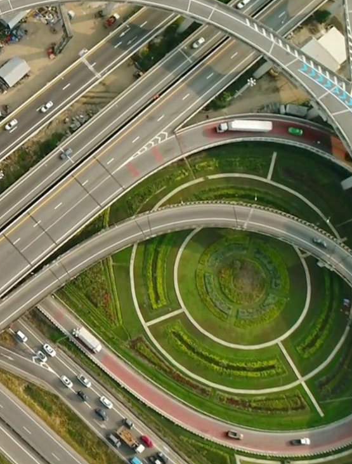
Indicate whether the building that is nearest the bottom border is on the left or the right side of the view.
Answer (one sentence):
You can find the building that is nearest the bottom border on the left side of the picture.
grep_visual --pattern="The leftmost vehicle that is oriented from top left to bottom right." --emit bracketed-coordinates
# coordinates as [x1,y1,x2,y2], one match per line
[13,328,29,344]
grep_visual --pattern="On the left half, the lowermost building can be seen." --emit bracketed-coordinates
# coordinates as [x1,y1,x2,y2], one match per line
[0,57,30,90]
